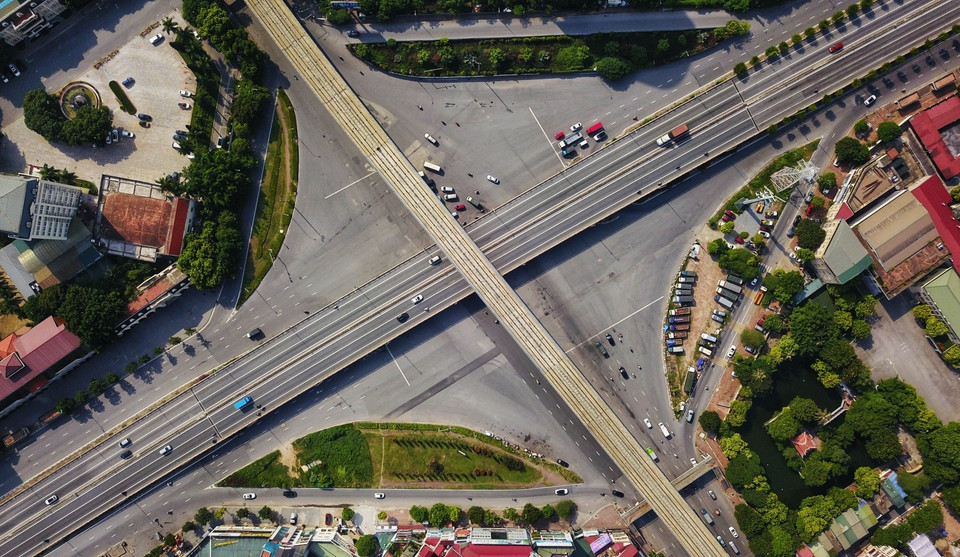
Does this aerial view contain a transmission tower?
Yes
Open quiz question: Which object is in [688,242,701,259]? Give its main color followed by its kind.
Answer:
white vehicle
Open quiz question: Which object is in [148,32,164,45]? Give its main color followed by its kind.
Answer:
white vehicle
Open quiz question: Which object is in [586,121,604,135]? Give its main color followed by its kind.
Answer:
red vehicle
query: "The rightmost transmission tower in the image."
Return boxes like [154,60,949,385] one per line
[772,161,819,191]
